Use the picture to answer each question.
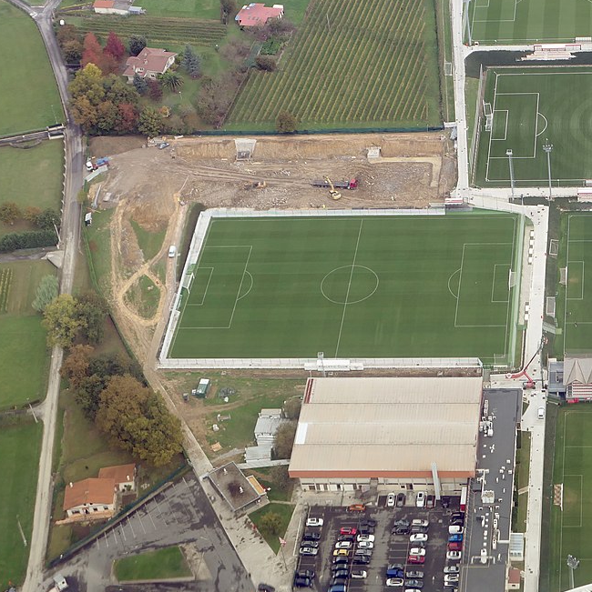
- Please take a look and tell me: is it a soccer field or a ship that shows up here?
soccer field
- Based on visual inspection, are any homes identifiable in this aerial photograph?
Yes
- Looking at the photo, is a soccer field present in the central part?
Yes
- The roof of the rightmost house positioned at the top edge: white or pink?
pink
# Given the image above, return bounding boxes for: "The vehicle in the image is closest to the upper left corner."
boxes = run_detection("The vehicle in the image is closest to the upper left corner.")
[88,151,112,167]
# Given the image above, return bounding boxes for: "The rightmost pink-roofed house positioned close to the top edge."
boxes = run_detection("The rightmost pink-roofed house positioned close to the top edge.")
[237,3,283,33]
